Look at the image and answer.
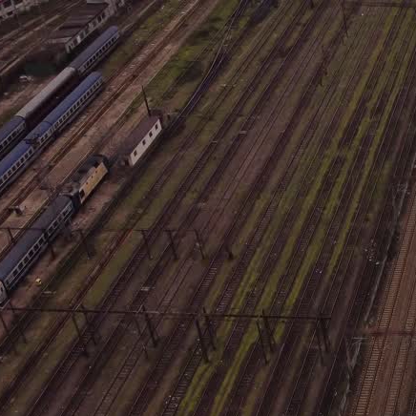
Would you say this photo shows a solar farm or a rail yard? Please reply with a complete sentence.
What you see here is a rail yard.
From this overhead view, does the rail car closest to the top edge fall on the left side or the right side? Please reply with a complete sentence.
You can find the rail car closest to the top edge on the left side of the picture.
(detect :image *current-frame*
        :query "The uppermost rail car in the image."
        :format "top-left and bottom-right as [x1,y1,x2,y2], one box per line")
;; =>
[68,27,124,81]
